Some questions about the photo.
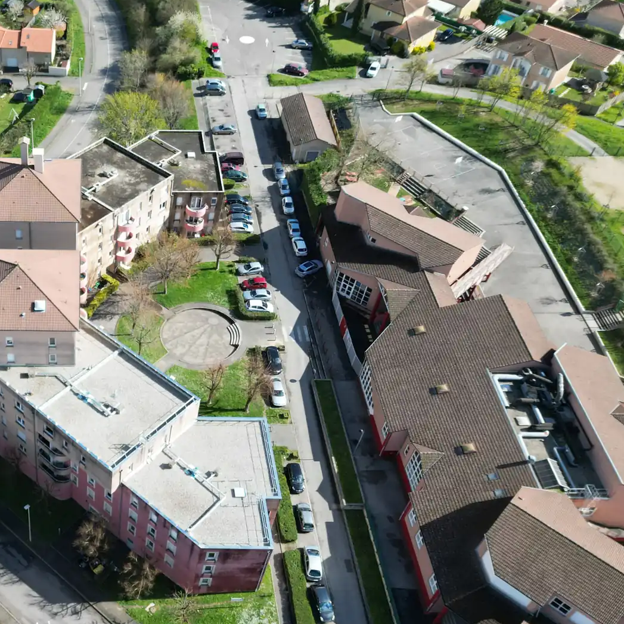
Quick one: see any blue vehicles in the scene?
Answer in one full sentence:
Yes, you can see a blue vehicle in this photo.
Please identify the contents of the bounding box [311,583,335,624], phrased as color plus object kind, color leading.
blue car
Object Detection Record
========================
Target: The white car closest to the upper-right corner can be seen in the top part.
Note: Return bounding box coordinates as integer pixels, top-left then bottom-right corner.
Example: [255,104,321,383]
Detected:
[366,64,380,77]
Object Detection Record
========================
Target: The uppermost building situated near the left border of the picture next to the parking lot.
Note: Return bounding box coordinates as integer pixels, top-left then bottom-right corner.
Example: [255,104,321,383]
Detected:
[0,129,224,305]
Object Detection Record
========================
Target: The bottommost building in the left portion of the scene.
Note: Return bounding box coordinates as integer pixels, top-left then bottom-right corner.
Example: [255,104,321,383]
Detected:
[0,249,284,593]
